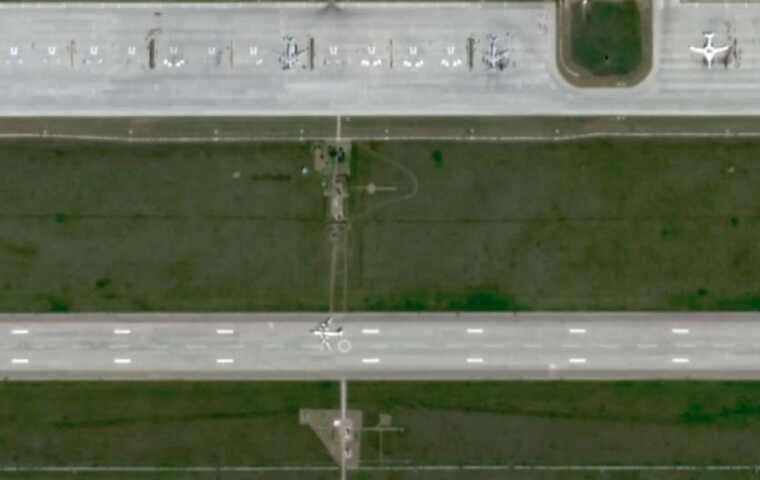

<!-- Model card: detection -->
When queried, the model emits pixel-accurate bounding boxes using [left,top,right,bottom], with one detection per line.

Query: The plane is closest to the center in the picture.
[312,317,344,350]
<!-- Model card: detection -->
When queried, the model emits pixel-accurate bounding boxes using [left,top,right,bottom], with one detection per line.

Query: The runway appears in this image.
[0,312,760,381]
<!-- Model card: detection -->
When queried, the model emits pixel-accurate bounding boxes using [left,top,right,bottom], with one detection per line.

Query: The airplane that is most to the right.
[691,33,728,69]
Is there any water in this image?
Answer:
No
